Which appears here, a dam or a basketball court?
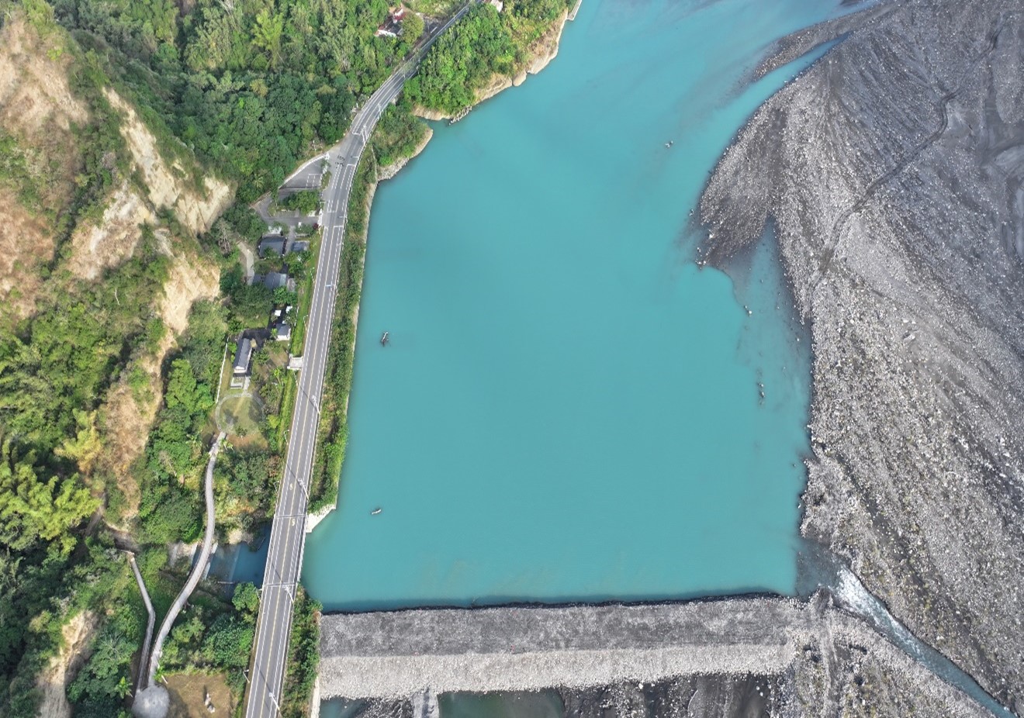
dam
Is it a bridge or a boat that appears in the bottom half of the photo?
bridge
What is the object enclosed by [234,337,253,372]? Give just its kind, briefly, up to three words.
house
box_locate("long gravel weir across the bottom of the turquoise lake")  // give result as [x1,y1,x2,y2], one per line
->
[313,591,808,716]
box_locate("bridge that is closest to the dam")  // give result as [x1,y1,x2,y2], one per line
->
[260,506,311,594]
